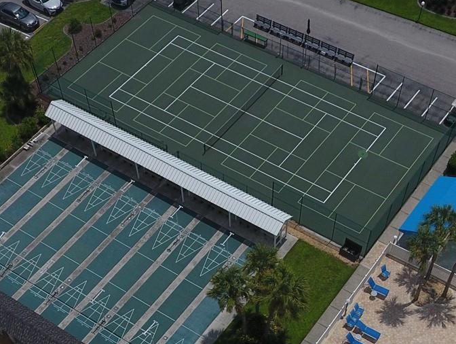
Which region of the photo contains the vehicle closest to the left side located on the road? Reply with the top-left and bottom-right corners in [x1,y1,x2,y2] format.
[0,0,36,30]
